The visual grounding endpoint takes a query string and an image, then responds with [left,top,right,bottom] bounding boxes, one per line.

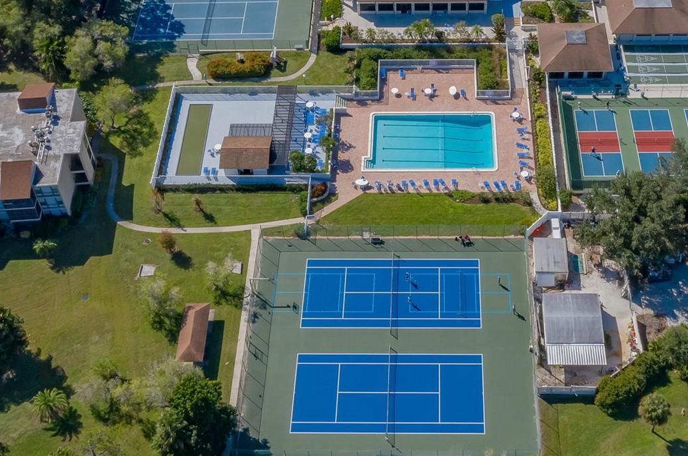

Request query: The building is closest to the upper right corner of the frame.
[606,0,688,44]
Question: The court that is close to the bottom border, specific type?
tennis court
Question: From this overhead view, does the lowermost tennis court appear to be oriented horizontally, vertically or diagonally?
horizontally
